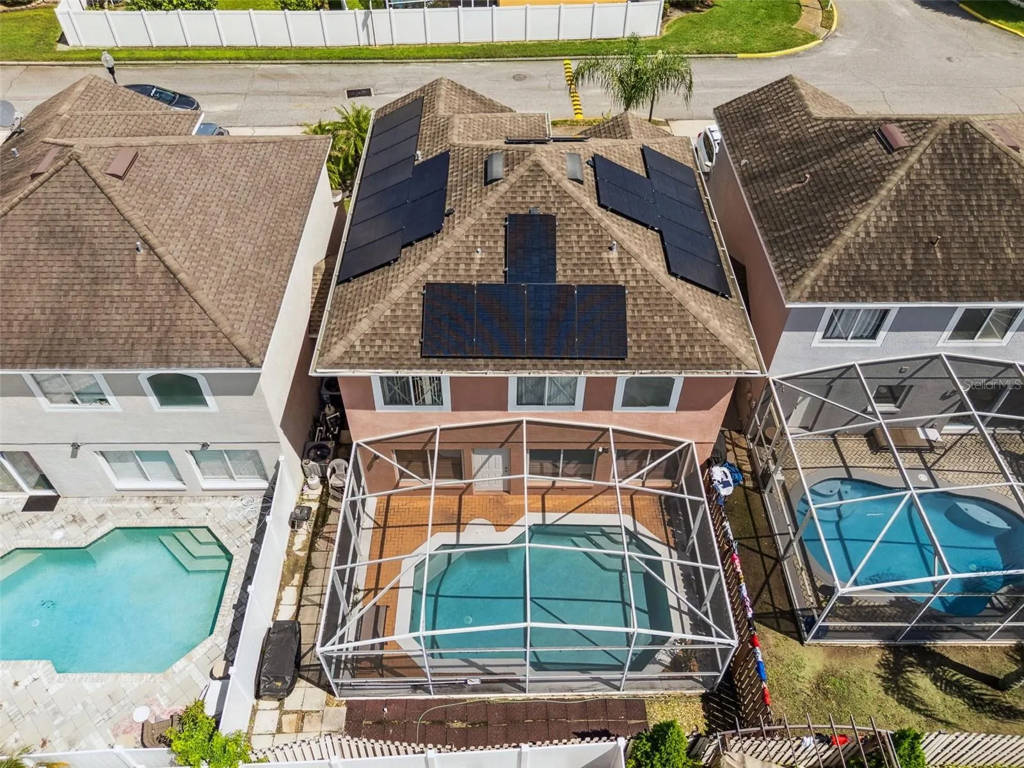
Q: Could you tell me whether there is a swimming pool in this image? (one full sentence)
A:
Yes, there's a swimming pool down there.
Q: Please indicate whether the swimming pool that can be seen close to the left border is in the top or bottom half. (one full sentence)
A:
Seen from above, the swimming pool that can be seen close to the left border lies in the bottom half of the view.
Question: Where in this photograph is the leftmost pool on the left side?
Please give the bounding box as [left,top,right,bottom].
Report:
[0,515,243,684]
